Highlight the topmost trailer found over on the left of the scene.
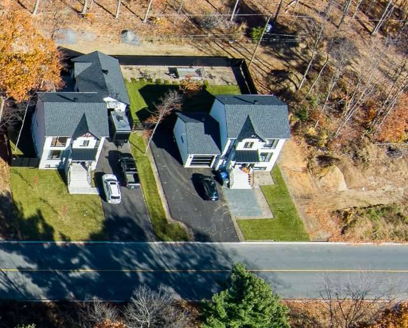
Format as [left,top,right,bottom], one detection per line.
[109,110,133,151]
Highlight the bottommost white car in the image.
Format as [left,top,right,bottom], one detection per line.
[101,174,123,204]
